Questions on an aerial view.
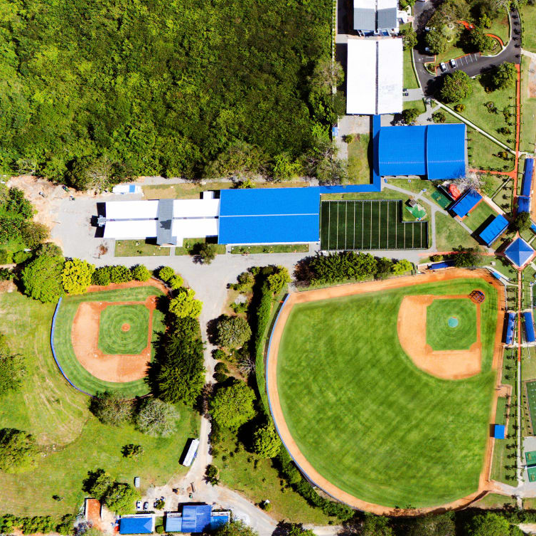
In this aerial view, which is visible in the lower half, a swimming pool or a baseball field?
baseball field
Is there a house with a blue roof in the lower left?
Yes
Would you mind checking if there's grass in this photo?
Yes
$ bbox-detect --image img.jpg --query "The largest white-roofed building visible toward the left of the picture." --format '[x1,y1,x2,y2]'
[104,199,219,246]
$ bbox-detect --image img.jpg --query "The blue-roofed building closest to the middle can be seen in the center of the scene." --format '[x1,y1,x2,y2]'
[217,188,322,248]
